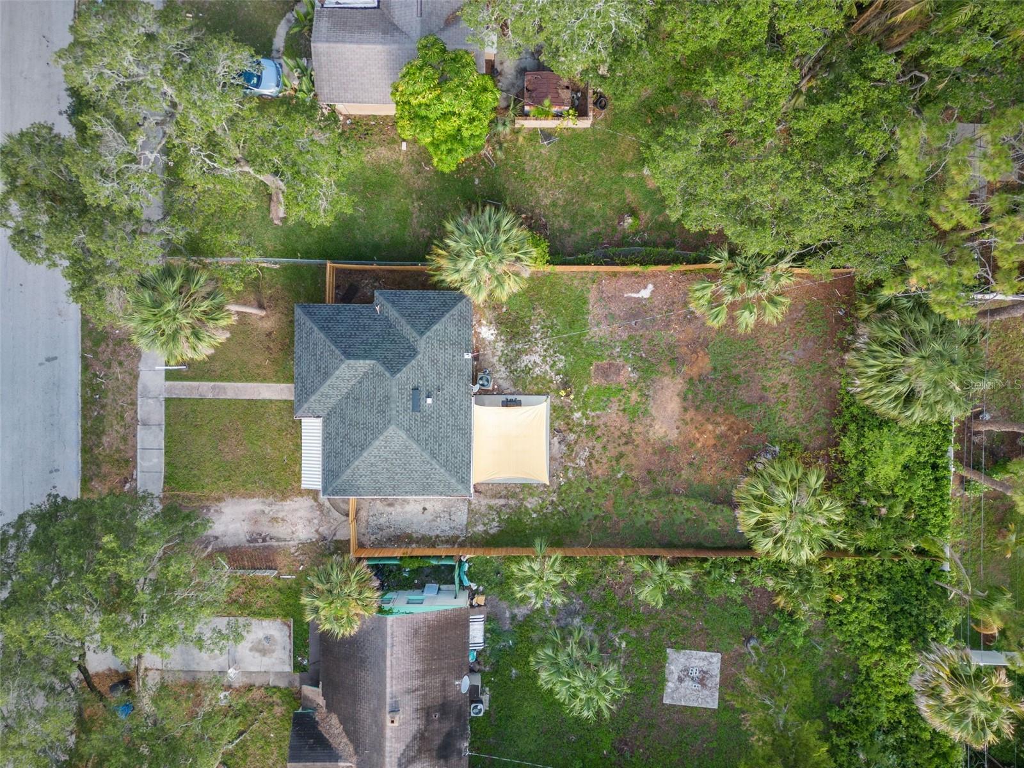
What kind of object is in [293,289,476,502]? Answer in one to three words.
house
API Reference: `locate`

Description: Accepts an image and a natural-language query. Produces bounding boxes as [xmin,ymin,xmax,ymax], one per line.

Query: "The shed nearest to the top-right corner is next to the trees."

[524,71,572,117]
